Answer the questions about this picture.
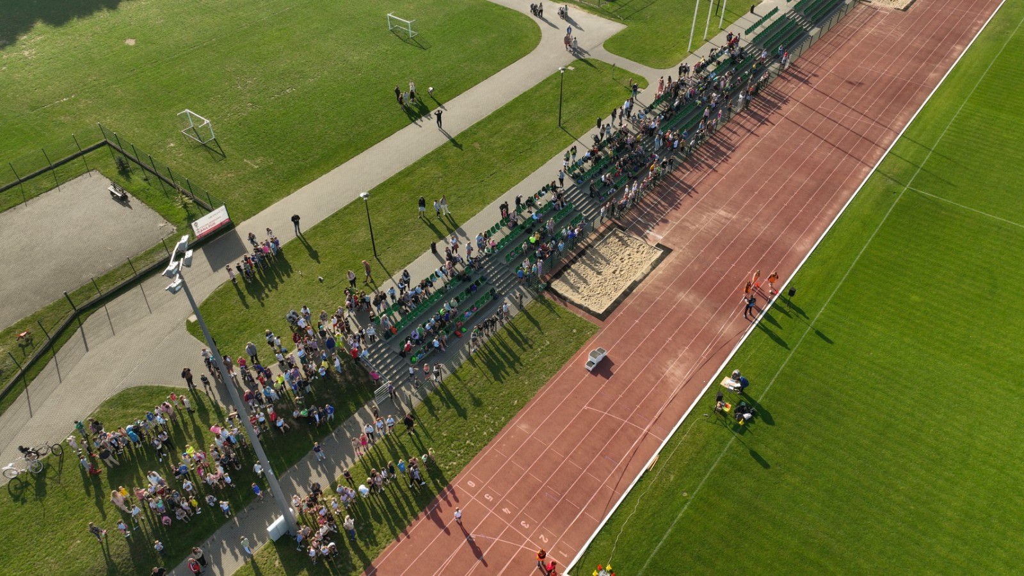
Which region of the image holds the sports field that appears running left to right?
top left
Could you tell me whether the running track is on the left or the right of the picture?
right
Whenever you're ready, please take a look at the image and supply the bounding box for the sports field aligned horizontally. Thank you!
[0,0,541,223]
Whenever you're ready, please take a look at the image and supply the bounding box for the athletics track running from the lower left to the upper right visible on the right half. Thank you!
[359,0,1006,576]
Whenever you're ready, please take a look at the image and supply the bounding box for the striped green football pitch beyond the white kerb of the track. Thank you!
[569,0,1024,576]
